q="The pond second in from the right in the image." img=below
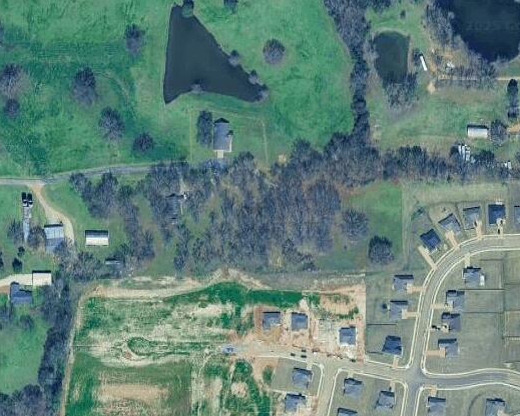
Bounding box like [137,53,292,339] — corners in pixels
[374,30,409,86]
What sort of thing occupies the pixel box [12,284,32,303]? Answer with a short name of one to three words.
house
